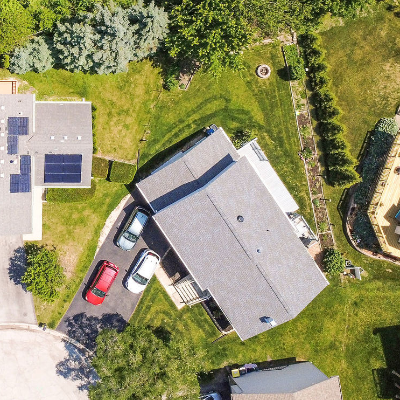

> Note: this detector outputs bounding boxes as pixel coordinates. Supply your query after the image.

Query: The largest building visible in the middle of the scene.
[135,126,329,342]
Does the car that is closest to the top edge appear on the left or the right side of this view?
left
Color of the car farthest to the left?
red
